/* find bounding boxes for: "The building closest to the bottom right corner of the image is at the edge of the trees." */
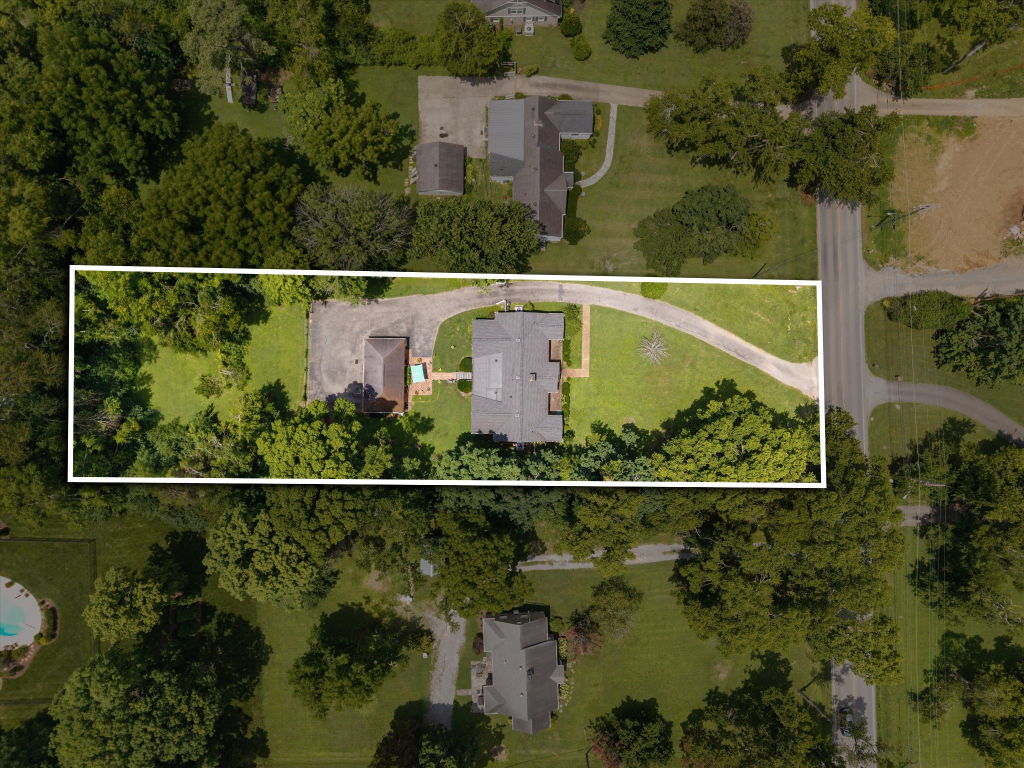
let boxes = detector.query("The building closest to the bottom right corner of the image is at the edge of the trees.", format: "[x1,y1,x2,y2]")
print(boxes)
[483,609,565,734]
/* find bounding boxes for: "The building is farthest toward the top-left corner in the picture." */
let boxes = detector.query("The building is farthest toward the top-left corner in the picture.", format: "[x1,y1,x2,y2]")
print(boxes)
[417,140,464,197]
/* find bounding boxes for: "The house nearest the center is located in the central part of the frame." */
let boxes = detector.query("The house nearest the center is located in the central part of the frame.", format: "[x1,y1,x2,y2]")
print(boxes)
[471,312,568,443]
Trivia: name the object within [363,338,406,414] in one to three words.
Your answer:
building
